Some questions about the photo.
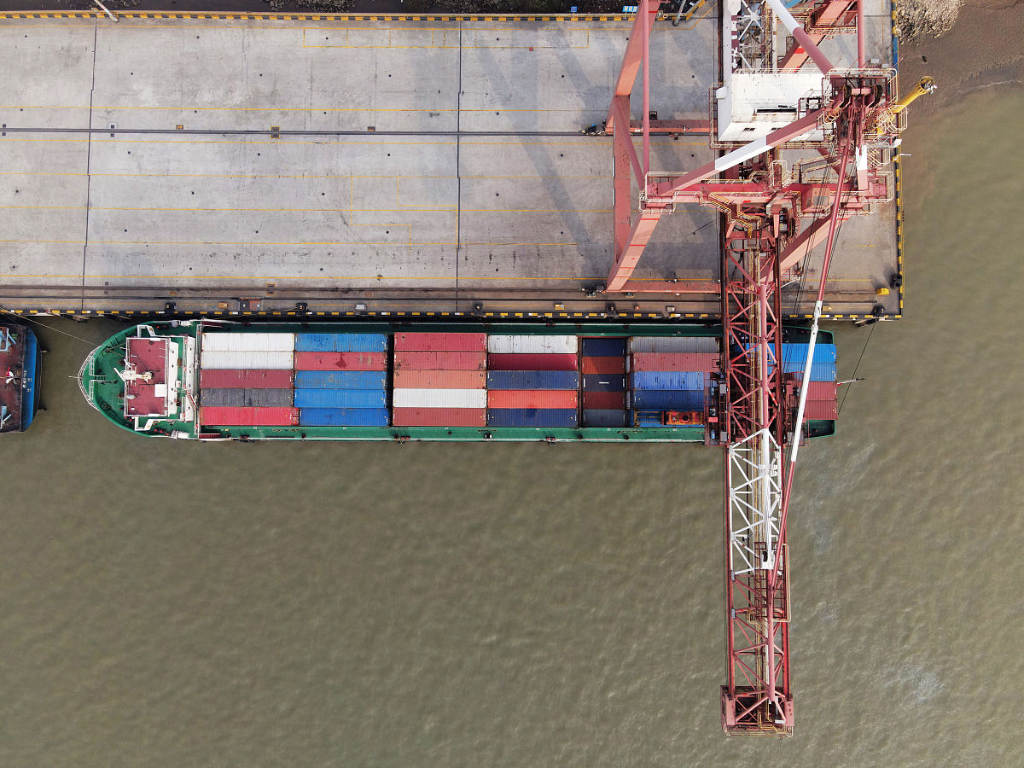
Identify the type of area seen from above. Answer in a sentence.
This image shows a port.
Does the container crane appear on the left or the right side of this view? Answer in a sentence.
The container crane sits on the right side.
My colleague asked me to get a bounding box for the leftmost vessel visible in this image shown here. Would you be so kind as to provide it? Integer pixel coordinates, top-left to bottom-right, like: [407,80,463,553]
[0,322,58,434]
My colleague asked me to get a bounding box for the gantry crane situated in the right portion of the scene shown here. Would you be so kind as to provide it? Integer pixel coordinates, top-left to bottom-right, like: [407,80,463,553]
[578,0,931,733]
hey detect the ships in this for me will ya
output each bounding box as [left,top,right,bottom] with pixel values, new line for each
[0,322,58,434]
[67,322,871,442]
